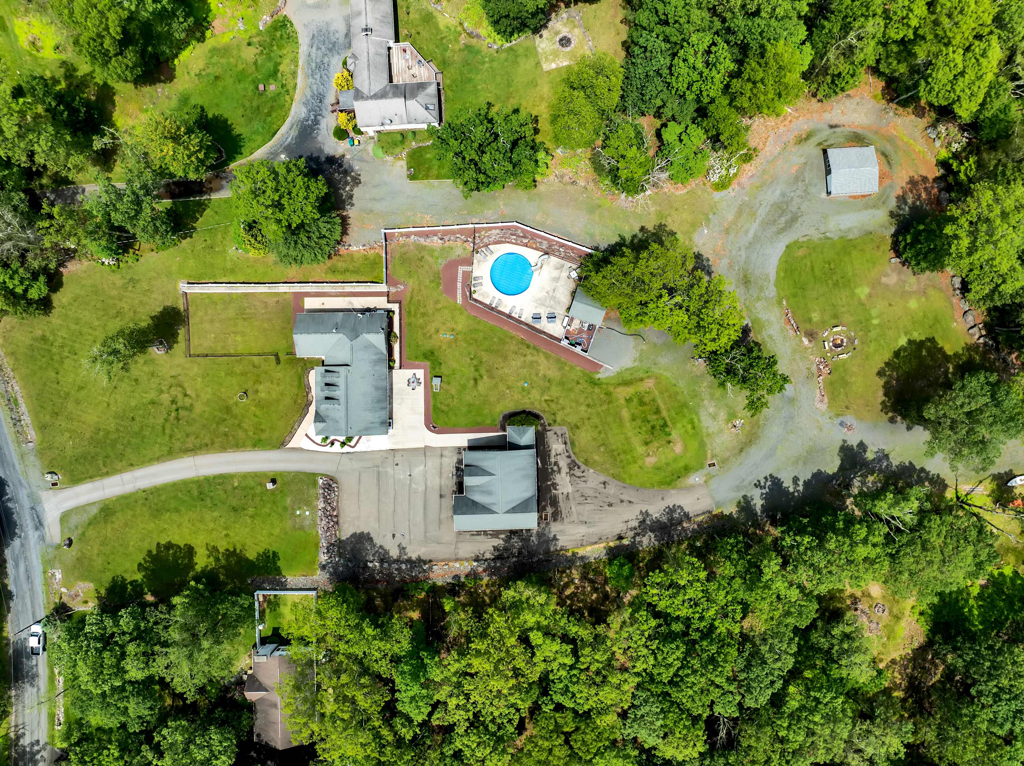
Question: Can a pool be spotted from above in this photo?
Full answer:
Yes, the image includes a pool.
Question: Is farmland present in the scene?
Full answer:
No, the picture contains no farmland.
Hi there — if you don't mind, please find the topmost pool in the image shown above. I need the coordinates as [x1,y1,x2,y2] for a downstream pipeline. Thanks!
[488,250,536,298]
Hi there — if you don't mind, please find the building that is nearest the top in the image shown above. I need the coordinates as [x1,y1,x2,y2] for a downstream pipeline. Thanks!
[338,0,439,134]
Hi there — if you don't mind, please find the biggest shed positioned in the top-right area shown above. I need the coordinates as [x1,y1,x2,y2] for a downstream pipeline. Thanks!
[821,146,878,197]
